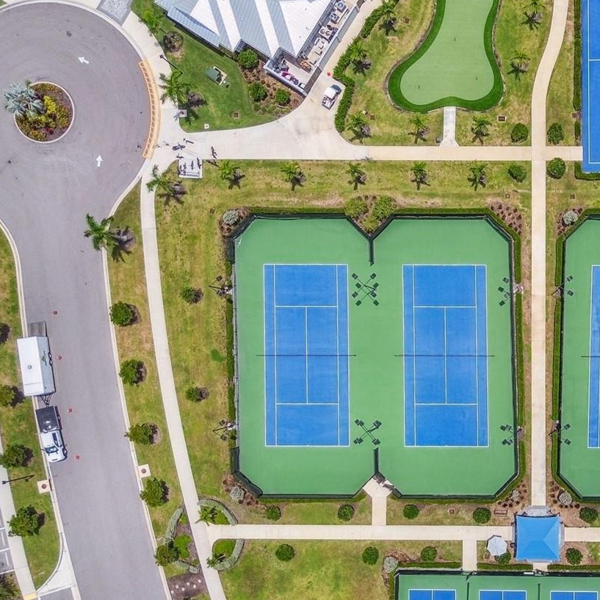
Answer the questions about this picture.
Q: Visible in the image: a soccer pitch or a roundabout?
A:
roundabout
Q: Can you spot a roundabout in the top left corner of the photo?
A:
Yes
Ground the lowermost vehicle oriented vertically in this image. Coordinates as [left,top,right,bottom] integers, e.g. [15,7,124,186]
[37,408,65,462]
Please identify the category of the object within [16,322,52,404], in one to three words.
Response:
trailer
